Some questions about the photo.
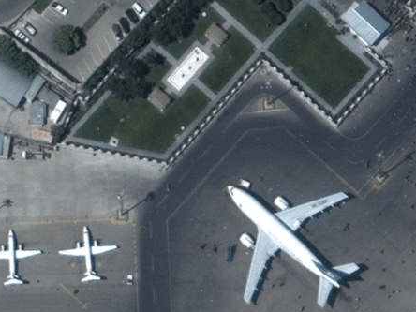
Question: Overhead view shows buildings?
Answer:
Yes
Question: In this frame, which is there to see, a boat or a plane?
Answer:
plane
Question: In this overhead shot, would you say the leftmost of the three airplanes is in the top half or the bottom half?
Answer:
bottom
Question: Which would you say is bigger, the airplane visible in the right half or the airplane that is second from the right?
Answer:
the airplane visible in the right half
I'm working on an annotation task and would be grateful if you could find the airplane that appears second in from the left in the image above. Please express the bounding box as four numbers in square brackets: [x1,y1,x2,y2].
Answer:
[58,225,116,279]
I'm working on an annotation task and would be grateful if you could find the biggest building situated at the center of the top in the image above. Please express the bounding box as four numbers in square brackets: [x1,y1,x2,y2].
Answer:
[167,46,209,92]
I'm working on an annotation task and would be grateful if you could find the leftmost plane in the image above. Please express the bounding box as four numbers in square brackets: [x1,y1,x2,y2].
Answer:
[0,227,41,281]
